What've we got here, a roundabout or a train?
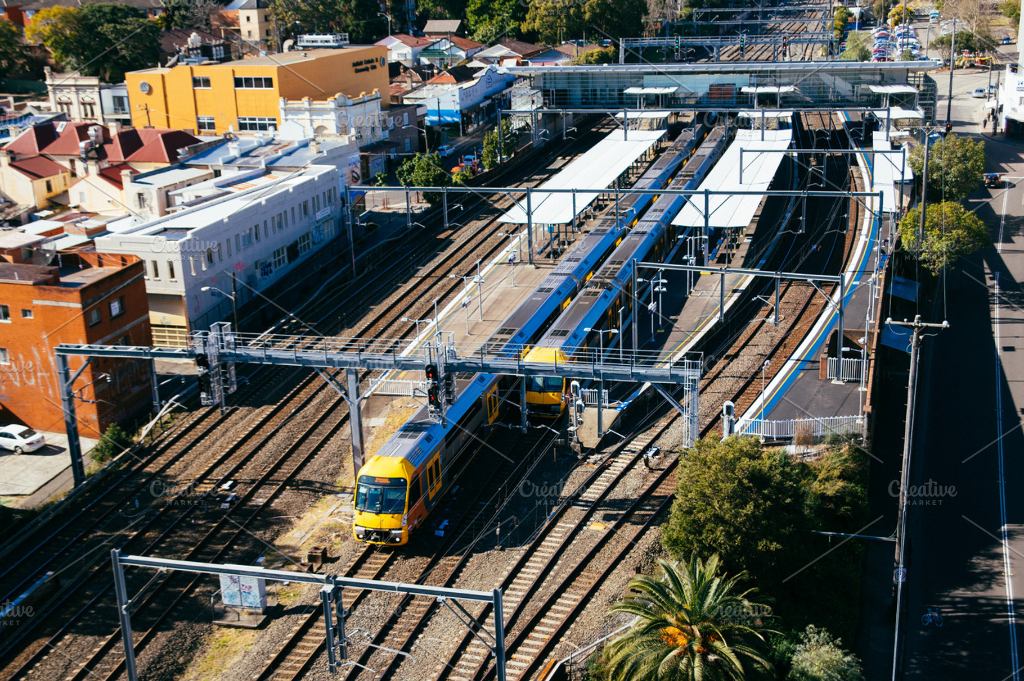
train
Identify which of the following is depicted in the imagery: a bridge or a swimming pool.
bridge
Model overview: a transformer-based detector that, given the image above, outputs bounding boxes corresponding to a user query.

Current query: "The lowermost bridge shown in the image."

[508,58,941,133]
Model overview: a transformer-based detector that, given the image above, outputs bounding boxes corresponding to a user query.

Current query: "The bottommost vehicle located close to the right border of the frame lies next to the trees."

[983,174,1001,188]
